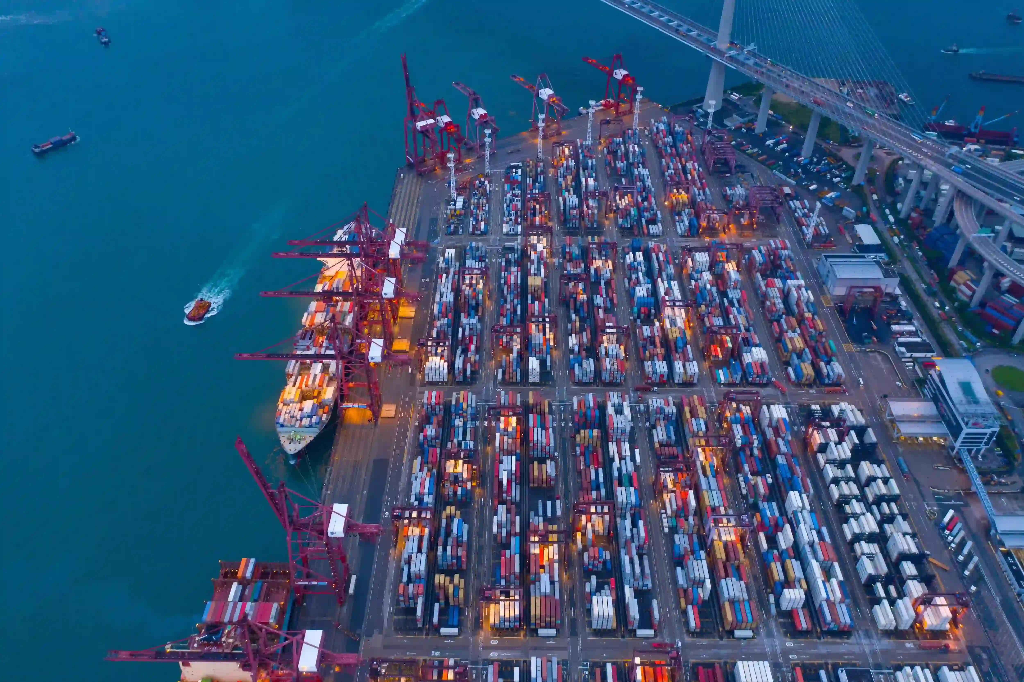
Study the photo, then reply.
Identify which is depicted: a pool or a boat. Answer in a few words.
boat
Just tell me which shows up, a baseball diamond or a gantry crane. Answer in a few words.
gantry crane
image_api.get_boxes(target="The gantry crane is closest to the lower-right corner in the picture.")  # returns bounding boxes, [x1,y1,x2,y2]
[916,594,978,631]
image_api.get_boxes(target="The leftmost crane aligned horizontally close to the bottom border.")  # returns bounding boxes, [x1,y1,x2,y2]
[112,615,368,682]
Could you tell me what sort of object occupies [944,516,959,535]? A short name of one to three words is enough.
vehicle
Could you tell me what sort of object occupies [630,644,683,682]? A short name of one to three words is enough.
container crane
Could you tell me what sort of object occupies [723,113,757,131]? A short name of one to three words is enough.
building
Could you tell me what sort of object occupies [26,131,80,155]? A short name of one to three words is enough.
vessel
